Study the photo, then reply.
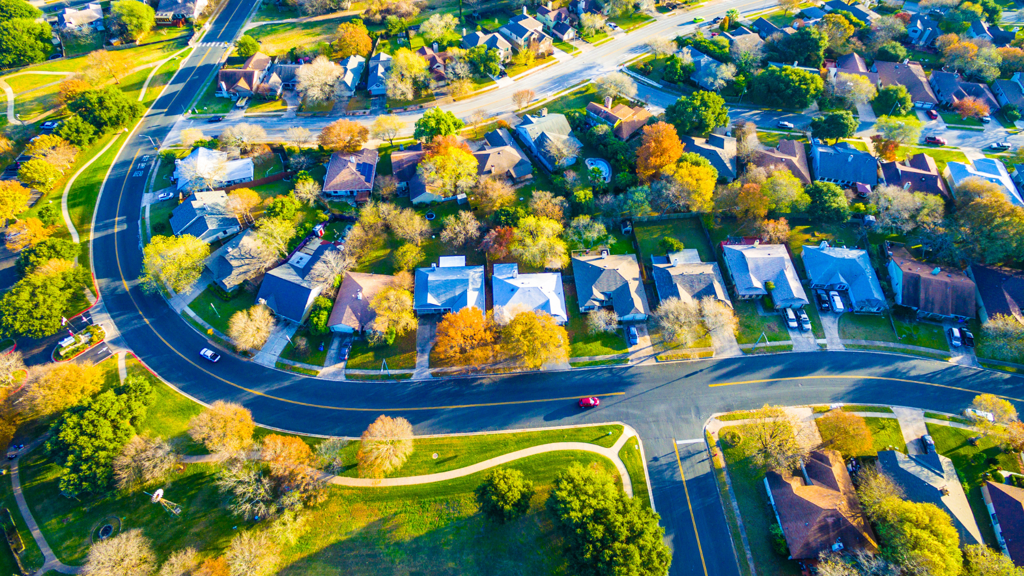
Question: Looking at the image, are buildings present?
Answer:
Yes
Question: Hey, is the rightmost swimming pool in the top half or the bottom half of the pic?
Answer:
top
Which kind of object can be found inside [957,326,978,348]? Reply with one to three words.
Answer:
truck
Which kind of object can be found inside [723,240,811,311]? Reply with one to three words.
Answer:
house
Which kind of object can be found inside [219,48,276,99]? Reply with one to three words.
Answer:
house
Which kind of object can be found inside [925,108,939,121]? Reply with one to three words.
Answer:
vehicle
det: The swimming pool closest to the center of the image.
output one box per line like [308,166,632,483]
[586,157,612,183]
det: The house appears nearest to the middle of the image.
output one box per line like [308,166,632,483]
[492,263,568,328]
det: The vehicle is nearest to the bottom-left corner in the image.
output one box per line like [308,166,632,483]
[198,347,223,363]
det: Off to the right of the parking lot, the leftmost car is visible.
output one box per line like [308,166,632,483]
[156,190,177,202]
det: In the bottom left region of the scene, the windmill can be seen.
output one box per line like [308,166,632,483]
[149,484,186,520]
